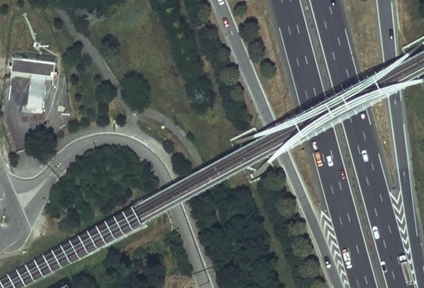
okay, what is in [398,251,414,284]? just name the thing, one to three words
vehicle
